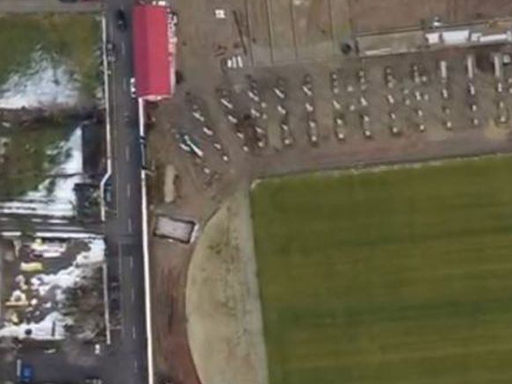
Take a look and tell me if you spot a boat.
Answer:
No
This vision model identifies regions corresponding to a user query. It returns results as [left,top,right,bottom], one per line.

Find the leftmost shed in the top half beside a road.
[81,125,110,175]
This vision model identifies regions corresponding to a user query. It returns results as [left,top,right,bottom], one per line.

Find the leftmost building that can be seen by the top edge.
[130,0,182,100]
